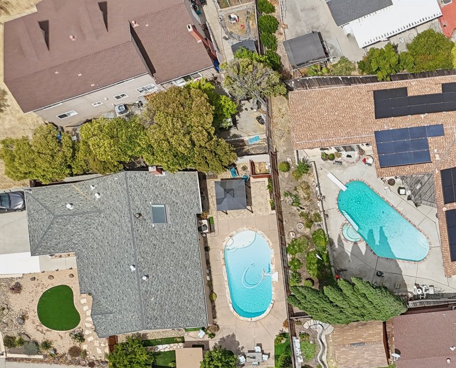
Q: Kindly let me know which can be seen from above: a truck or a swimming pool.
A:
swimming pool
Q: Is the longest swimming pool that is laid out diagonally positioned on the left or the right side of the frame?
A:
right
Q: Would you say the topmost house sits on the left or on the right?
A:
right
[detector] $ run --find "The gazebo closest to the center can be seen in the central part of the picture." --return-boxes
[214,180,255,216]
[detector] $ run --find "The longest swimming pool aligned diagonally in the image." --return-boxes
[335,178,432,264]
